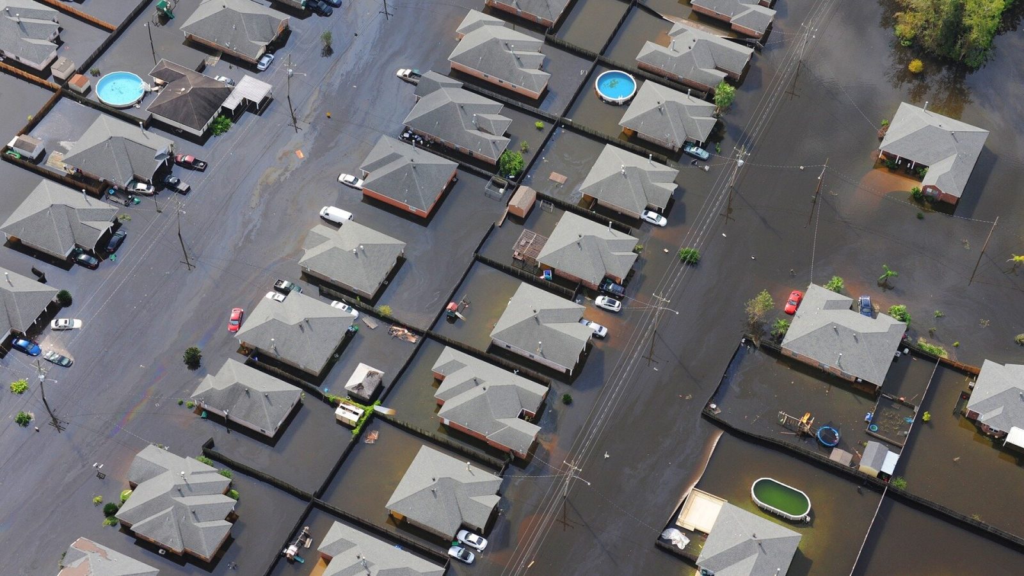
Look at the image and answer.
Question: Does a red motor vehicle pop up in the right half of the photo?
Yes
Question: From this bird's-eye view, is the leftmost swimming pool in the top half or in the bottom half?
top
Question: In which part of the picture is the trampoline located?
bottom right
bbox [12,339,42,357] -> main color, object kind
blue car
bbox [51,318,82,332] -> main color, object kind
white car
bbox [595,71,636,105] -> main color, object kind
blue swimming pool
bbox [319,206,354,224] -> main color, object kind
white vehicle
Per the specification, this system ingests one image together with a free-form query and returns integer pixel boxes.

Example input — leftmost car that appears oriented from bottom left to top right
[103,231,129,254]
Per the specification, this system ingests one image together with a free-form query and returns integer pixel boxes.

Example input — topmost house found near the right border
[877,101,989,207]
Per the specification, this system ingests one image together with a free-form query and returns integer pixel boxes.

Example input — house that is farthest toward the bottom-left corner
[60,536,159,576]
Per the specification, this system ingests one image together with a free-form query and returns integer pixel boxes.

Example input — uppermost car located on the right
[682,146,710,161]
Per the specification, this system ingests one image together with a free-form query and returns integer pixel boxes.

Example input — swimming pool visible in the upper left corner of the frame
[97,71,151,113]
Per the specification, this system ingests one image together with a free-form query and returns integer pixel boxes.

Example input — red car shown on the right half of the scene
[785,291,802,315]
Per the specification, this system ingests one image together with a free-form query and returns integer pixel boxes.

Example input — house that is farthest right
[963,358,1024,441]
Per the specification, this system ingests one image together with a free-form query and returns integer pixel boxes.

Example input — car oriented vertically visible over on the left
[228,308,243,334]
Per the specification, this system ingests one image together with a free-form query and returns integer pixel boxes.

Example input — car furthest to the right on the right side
[859,294,874,317]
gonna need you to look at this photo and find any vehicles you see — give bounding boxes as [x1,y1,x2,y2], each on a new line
[581,319,609,338]
[228,308,243,334]
[785,291,802,315]
[593,295,624,313]
[307,1,333,16]
[639,211,668,228]
[255,53,277,73]
[319,206,354,224]
[682,146,710,161]
[71,254,102,270]
[597,282,628,299]
[331,300,359,320]
[174,157,207,175]
[161,176,194,196]
[212,74,237,87]
[270,278,305,295]
[51,318,82,332]
[103,231,129,254]
[455,531,489,552]
[43,352,75,371]
[126,183,156,198]
[859,294,874,317]
[261,290,286,303]
[12,339,42,357]
[446,547,478,566]
[337,176,365,193]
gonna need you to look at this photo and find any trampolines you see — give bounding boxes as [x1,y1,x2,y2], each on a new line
[816,427,838,450]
